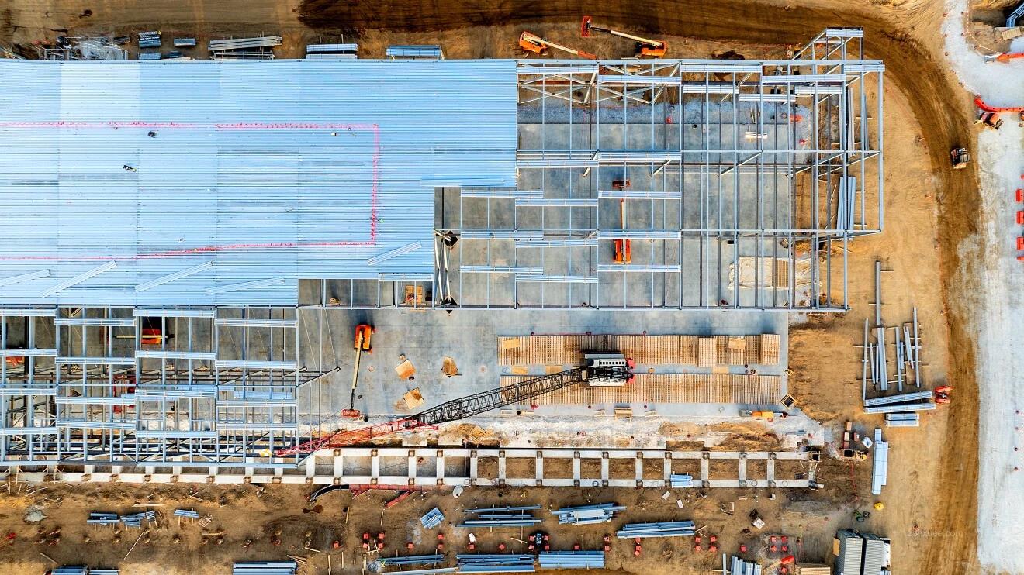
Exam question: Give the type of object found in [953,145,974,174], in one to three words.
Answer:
work vehicle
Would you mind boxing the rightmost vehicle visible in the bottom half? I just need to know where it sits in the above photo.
[933,386,953,402]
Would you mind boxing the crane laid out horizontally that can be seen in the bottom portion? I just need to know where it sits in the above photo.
[274,353,635,454]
